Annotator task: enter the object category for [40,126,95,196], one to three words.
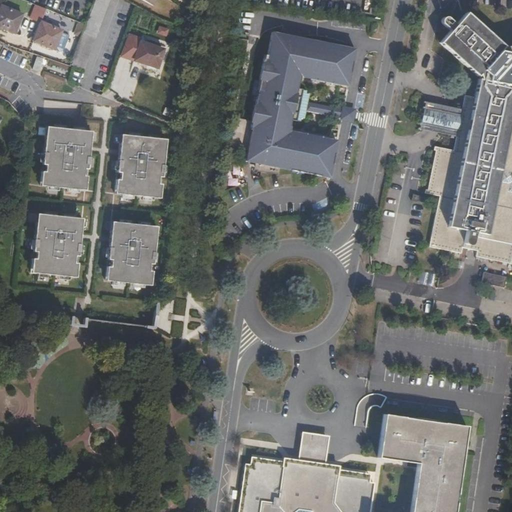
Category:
building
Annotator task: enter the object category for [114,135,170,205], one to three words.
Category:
building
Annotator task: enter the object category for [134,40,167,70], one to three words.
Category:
house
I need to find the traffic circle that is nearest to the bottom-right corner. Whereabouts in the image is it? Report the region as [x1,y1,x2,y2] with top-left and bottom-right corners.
[299,378,339,418]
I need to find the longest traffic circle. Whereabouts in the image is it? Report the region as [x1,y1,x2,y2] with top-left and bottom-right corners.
[234,224,358,386]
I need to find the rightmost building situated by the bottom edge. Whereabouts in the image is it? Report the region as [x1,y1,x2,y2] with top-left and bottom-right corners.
[380,414,472,512]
